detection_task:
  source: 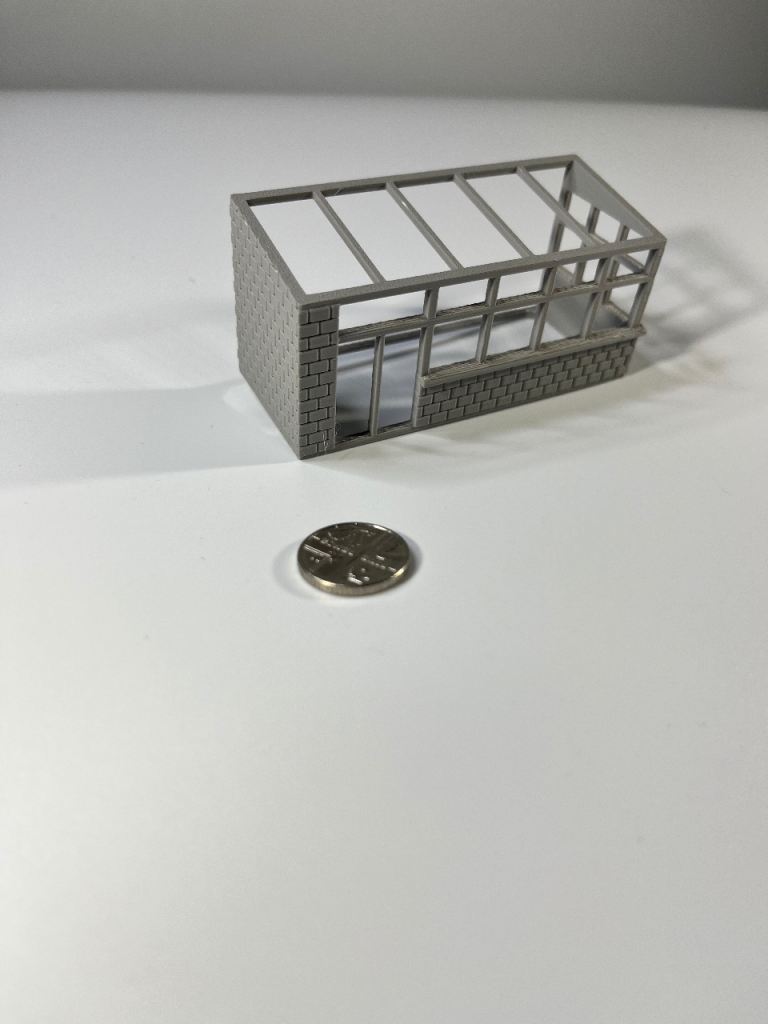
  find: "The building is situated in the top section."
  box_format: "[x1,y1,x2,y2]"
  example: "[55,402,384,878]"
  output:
[229,154,667,459]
